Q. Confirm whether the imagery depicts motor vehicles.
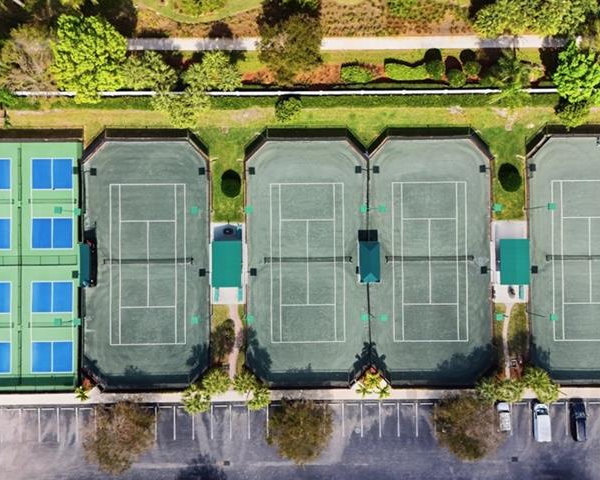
Yes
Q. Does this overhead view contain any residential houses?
No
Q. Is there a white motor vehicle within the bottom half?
Yes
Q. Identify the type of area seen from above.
sports ground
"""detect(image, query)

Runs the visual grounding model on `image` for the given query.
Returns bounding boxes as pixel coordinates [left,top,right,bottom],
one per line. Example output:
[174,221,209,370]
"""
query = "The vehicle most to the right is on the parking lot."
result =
[569,400,587,439]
